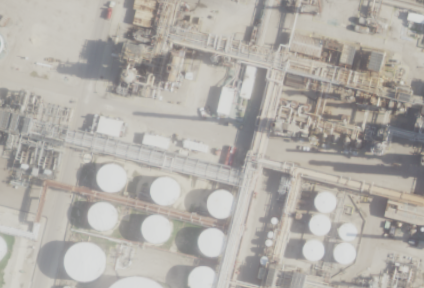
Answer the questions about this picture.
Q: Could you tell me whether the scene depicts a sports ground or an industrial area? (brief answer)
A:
industrial area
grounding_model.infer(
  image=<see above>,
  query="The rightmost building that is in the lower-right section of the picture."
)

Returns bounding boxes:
[386,201,424,224]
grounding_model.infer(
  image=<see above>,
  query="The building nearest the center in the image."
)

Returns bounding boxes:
[218,86,236,116]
